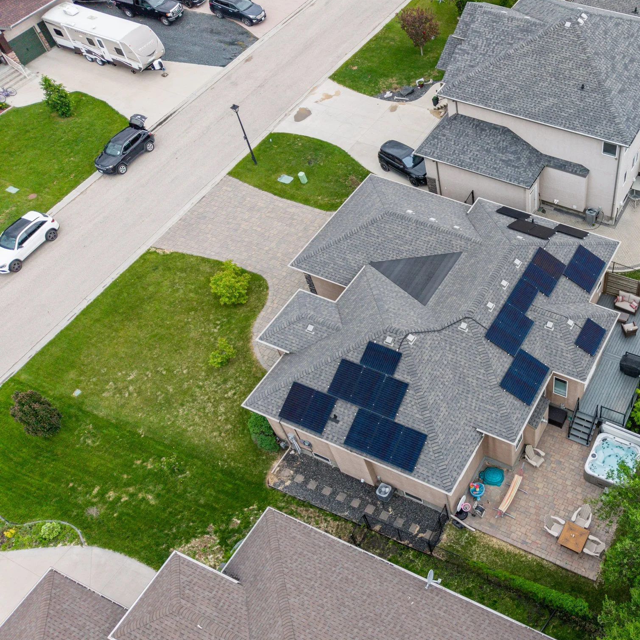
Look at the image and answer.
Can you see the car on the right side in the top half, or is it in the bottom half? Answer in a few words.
top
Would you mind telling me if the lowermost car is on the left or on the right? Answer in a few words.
left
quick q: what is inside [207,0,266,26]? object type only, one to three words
car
